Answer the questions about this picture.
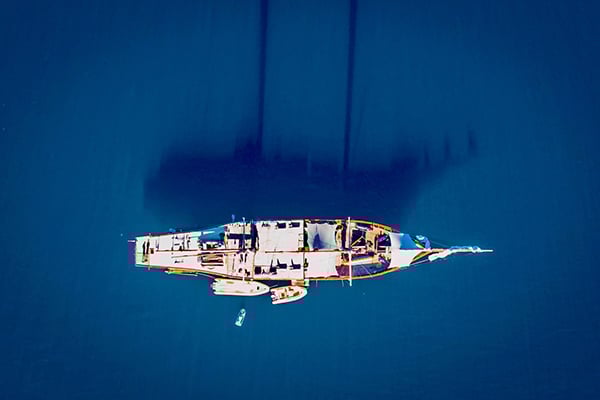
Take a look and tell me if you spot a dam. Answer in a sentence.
No, there is no dam in the image.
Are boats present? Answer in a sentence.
Yes, the picture does show a boat.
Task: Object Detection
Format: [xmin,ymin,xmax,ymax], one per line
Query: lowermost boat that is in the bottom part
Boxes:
[233,309,246,327]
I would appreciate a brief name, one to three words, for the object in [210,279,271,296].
boat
